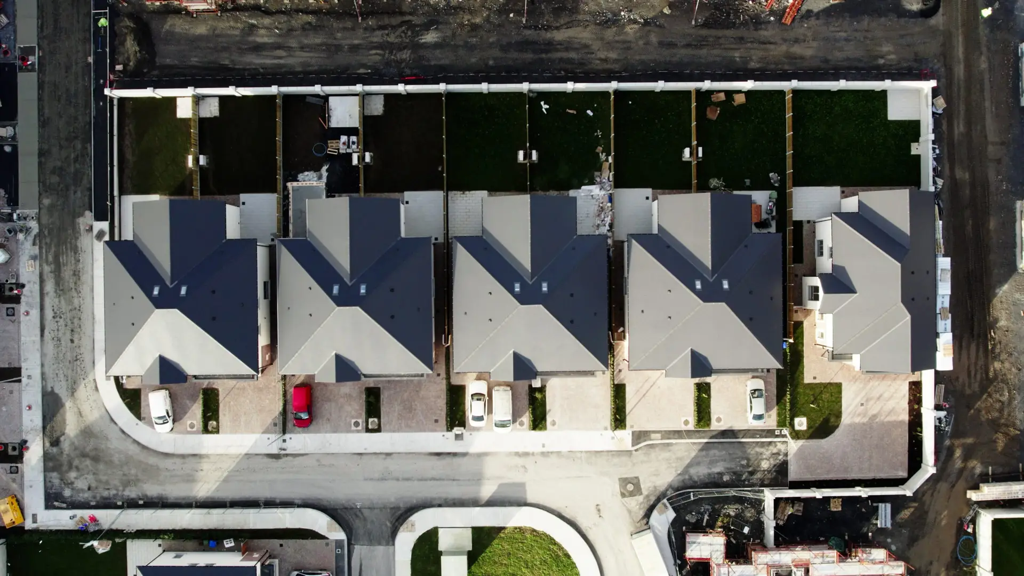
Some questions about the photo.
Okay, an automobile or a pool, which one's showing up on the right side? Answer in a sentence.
You can see an automobile on the right side.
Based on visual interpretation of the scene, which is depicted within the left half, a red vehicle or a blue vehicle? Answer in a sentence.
It is a red vehicle that can be seen within the left half.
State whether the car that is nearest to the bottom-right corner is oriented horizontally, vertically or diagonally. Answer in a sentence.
The car that is nearest to the bottom-right corner is laid out vertically.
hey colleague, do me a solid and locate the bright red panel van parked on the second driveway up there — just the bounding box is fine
[290,383,313,427]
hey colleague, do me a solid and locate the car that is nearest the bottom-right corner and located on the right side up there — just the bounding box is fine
[745,377,769,424]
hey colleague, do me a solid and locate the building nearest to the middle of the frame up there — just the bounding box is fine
[451,192,609,381]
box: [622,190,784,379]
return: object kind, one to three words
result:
house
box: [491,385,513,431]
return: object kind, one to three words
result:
car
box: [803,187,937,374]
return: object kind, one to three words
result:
house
